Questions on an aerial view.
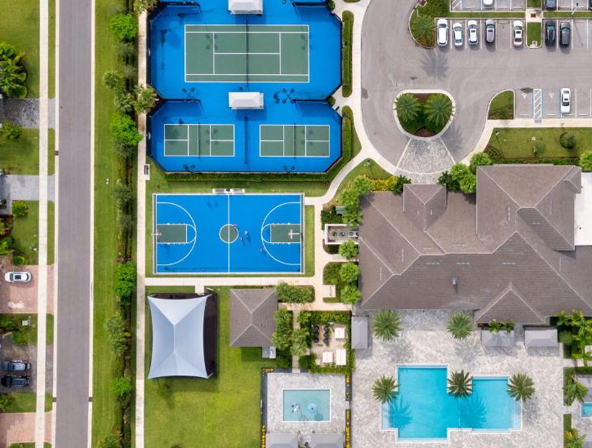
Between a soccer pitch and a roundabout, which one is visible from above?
roundabout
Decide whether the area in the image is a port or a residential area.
residential area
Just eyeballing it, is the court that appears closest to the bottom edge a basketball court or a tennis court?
basketball court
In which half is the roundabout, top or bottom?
top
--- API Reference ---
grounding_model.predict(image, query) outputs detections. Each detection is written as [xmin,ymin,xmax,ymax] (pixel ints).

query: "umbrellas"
[323,351,333,362]
[336,349,346,365]
[335,327,345,338]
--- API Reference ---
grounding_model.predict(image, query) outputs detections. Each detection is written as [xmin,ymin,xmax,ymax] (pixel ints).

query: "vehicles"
[4,359,33,372]
[5,271,34,283]
[482,0,493,9]
[2,374,32,387]
[559,87,572,114]
[513,20,525,47]
[453,22,464,48]
[544,18,557,47]
[559,21,571,48]
[545,0,557,10]
[484,18,496,45]
[468,21,478,46]
[436,18,449,47]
